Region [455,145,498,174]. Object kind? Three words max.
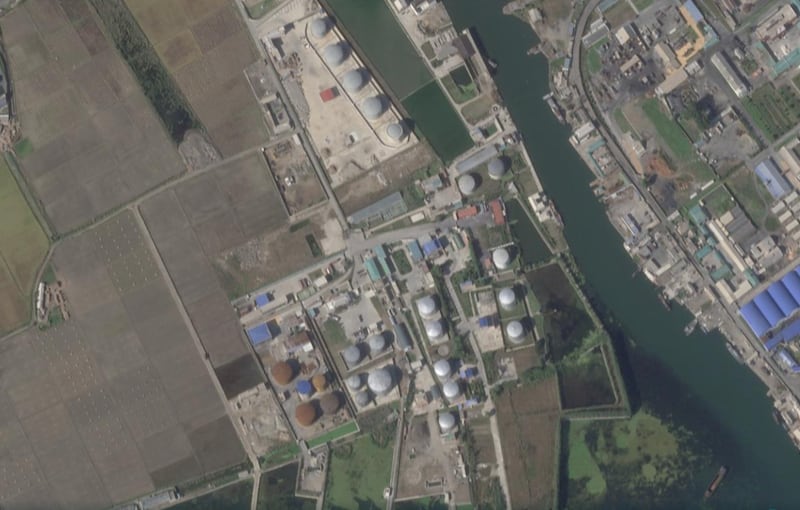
shed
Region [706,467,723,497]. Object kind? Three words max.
vessel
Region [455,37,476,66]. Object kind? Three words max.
building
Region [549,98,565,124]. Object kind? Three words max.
ship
